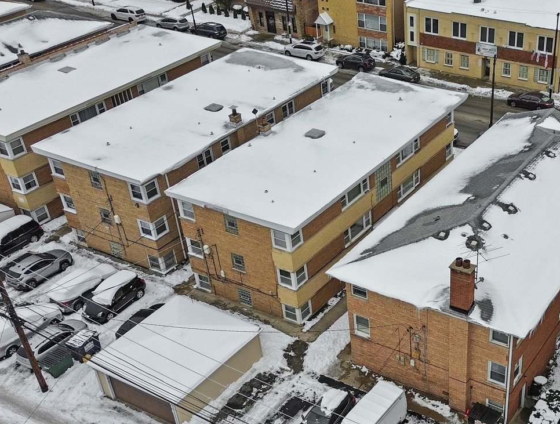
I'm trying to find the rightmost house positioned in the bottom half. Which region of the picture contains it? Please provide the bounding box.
[325,111,560,423]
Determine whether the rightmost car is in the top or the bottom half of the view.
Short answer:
top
